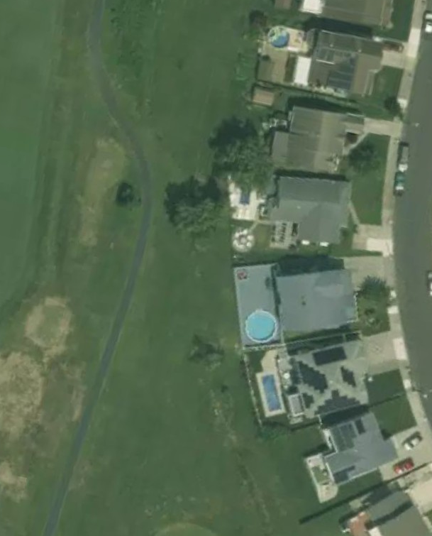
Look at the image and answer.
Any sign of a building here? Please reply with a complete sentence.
Yes, looking at the shot, I can spot a building.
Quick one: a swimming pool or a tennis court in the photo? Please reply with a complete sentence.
Looking from above, you can make out a swimming pool.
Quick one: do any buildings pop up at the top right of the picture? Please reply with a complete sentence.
Yes, a building can be seen at the top right of the picture.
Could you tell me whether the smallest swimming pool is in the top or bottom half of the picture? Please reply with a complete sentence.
The top half of the photo is where the smallest swimming pool is.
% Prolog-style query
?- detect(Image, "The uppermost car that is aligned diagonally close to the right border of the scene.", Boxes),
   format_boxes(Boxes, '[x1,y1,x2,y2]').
[402,432,424,449]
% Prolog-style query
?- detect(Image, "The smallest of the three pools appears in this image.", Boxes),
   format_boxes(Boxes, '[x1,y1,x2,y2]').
[268,26,290,48]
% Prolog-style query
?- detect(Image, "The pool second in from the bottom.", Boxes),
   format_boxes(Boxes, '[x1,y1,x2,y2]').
[245,310,277,342]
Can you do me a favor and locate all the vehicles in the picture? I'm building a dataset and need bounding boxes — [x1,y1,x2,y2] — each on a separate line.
[402,432,424,449]
[382,42,404,52]
[392,458,415,474]
[394,171,404,194]
[398,141,410,170]
[424,11,432,33]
